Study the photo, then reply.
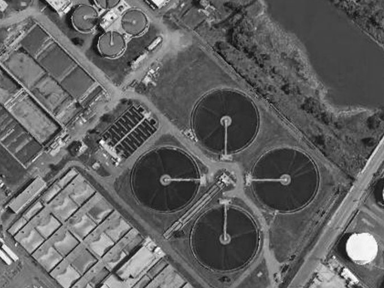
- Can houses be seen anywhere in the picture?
Yes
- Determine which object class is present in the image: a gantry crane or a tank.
tank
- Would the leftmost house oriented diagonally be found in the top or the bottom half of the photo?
bottom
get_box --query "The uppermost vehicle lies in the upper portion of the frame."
[146,35,163,49]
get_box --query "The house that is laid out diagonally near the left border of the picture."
[8,178,45,215]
